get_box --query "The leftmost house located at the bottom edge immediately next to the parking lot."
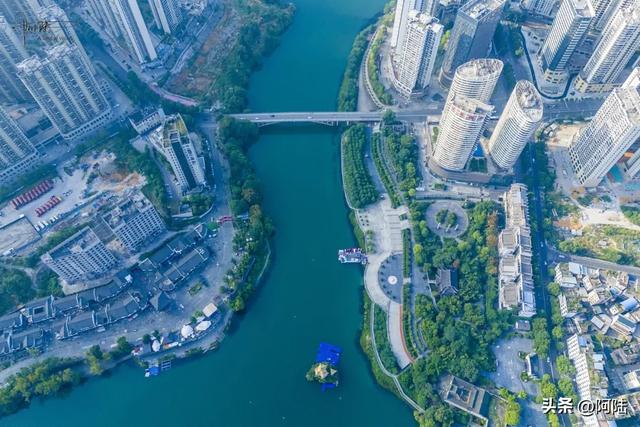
[441,374,487,418]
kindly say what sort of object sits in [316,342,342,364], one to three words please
pier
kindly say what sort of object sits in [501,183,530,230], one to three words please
building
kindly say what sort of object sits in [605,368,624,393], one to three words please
house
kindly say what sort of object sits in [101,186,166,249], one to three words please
building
